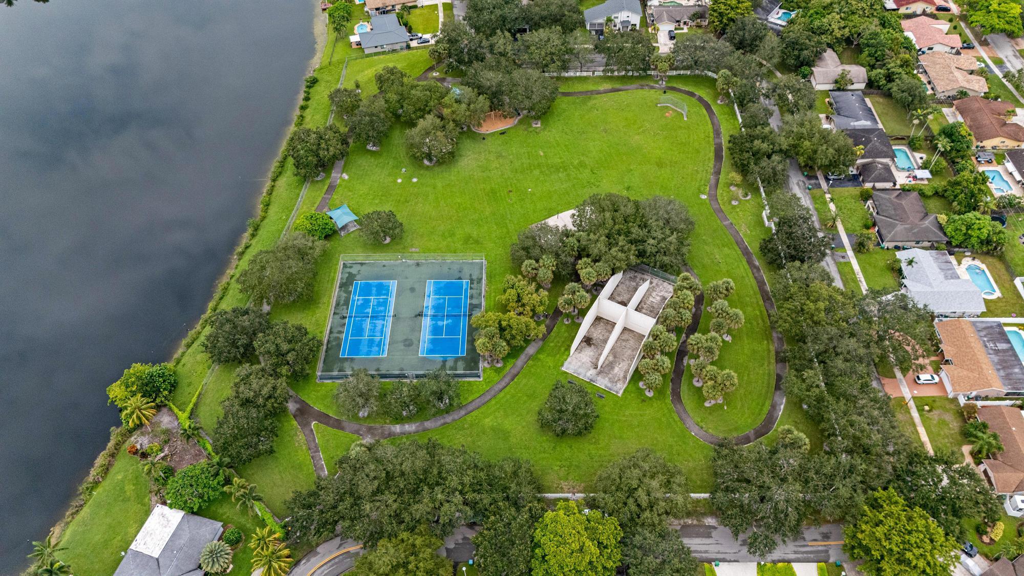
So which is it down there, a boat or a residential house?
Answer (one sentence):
This aerial view contains a residential house.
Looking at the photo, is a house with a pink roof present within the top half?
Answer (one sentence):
Yes, looking within the top half, one can make out a house with a pink roof.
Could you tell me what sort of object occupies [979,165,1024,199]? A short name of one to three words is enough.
swimming pool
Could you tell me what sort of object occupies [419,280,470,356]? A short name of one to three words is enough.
tennis court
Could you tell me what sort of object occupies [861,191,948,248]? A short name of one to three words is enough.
house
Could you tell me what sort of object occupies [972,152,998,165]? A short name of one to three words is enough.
gazebo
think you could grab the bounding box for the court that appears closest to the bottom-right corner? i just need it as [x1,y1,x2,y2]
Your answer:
[563,269,674,394]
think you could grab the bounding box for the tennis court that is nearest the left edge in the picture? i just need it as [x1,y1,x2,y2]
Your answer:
[339,281,397,357]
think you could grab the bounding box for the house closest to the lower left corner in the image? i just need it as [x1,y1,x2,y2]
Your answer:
[114,504,224,576]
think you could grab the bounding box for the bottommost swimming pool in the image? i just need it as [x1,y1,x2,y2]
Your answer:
[1004,326,1024,370]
